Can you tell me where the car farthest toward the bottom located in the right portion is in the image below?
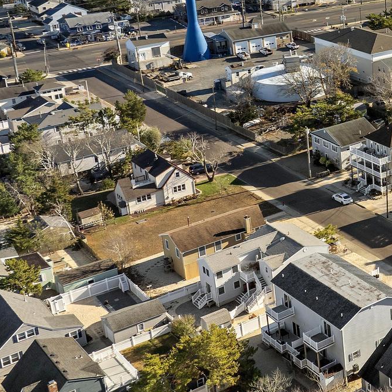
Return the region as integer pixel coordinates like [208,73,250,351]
[330,192,352,206]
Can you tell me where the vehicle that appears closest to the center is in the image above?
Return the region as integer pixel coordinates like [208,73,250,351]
[186,162,208,175]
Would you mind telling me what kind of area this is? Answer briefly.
residential area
